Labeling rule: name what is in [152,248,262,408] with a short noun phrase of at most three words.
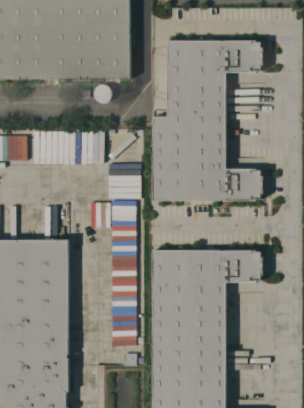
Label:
building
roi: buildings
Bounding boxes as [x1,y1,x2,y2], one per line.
[0,0,134,80]
[152,248,262,408]
[152,40,262,200]
[0,238,71,408]
[125,352,138,366]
